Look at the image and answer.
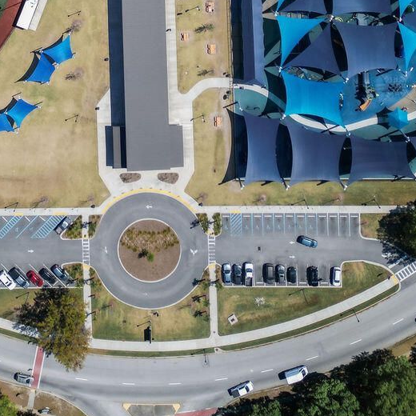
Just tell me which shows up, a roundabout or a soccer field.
roundabout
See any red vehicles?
Yes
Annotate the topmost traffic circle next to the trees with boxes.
[91,198,207,311]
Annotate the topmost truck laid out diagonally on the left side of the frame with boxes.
[52,212,75,237]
